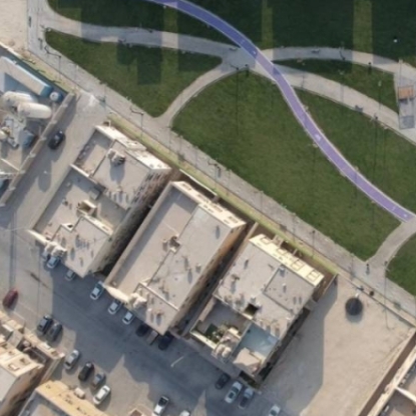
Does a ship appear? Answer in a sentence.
No, I can't see a single ship in this photo.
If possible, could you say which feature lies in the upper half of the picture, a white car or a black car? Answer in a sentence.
There is a black car in the upper half of the picture.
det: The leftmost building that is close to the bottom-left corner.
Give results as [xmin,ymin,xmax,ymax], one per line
[0,323,52,416]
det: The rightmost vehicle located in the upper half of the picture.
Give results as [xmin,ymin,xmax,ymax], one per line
[46,128,65,149]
